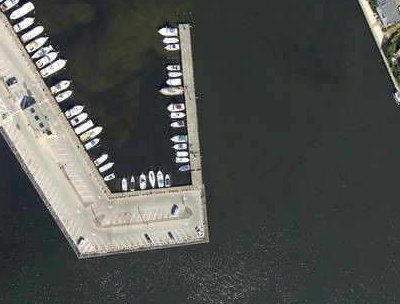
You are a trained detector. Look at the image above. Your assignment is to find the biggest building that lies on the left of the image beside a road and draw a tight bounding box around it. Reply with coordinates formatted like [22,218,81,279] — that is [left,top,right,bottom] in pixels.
[24,102,52,135]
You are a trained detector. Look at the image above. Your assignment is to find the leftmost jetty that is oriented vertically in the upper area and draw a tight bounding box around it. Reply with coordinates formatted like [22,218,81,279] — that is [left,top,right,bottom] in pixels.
[179,24,204,186]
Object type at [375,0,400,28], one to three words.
house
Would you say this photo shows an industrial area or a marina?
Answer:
marina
